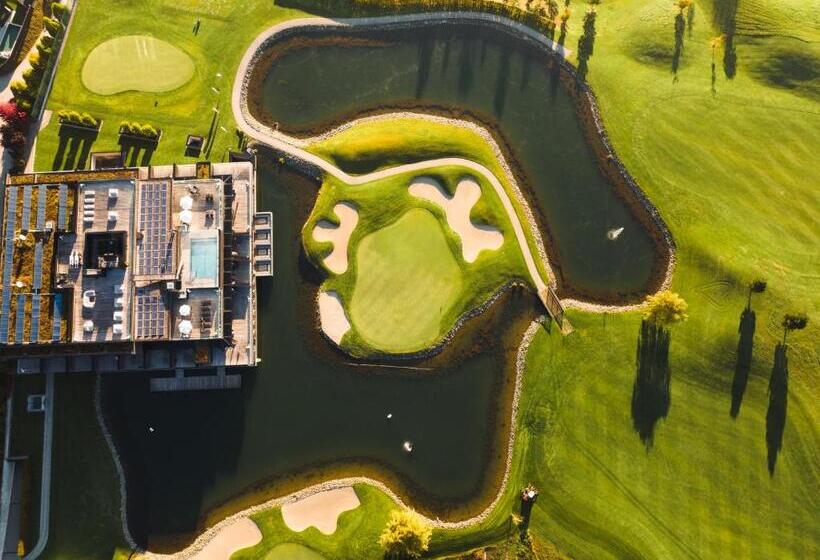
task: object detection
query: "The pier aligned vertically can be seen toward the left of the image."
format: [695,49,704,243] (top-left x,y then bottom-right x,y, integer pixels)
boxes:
[255,212,274,280]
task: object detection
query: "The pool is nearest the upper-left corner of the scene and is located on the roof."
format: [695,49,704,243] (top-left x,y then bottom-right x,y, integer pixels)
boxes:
[181,229,220,291]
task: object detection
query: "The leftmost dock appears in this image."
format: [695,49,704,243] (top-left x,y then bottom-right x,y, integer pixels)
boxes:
[151,366,241,392]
